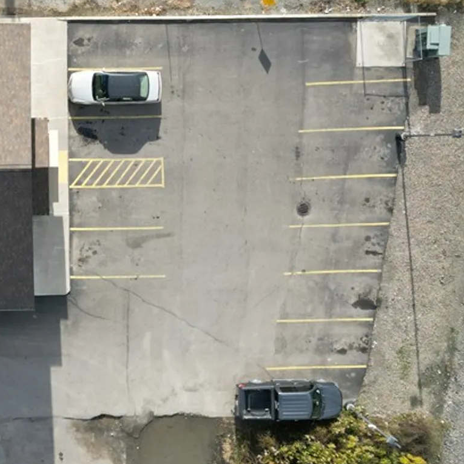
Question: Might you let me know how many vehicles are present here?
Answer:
2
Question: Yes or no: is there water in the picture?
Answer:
No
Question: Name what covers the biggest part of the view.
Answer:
paved ground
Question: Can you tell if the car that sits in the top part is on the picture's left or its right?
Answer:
left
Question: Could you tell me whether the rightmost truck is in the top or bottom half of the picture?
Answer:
bottom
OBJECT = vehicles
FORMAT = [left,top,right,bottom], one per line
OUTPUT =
[67,67,163,106]
[233,379,341,426]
